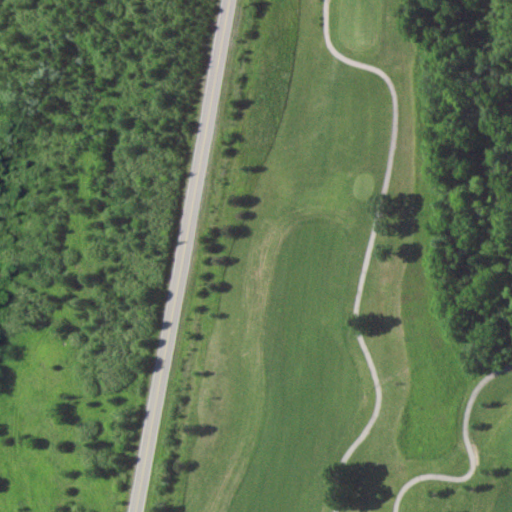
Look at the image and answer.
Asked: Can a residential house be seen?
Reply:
No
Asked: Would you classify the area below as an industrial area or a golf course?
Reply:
golf course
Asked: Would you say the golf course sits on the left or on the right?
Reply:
right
